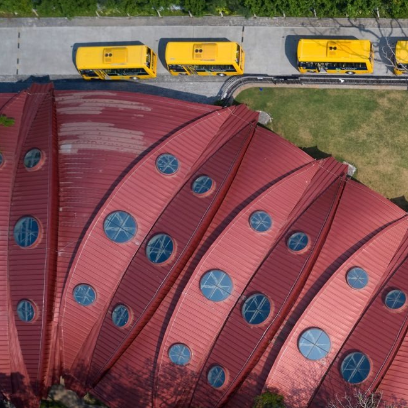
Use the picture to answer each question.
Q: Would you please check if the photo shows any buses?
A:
Yes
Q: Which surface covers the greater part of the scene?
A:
buildings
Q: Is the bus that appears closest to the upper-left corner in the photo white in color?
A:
No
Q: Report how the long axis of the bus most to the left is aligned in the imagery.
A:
horizontally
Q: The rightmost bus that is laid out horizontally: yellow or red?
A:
yellow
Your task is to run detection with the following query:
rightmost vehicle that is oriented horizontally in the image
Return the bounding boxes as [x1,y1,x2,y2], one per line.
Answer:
[293,39,376,74]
